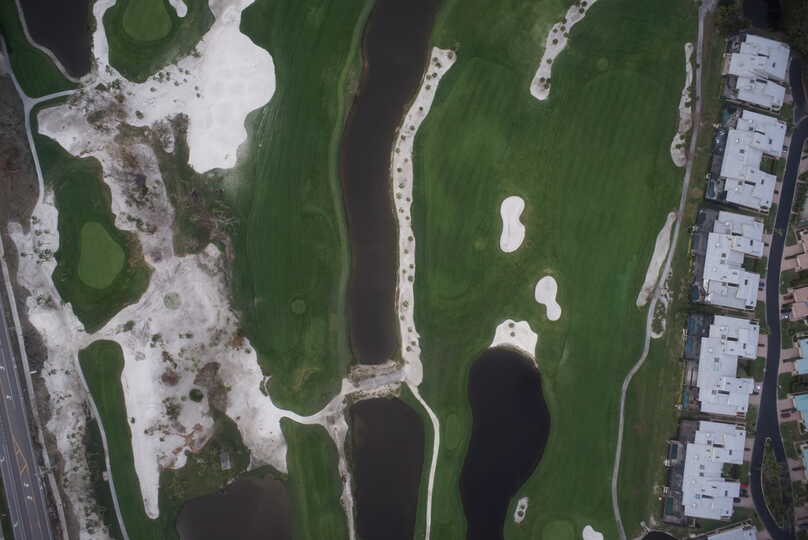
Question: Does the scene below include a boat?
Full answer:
No, no boat can be seen from above.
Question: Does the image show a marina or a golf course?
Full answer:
The picture captures a golf course.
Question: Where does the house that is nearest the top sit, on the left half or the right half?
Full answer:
The house that is nearest the top sits on the right side.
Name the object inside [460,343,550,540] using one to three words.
pond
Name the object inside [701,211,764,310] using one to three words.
house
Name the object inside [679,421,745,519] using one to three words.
house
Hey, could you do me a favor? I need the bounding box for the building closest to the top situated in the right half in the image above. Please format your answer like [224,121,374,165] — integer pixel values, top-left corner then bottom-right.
[727,34,790,108]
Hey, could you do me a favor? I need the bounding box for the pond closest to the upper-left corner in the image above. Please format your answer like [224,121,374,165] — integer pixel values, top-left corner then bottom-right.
[21,0,92,78]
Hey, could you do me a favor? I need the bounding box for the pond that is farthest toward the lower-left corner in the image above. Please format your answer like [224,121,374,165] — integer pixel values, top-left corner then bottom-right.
[176,472,291,540]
